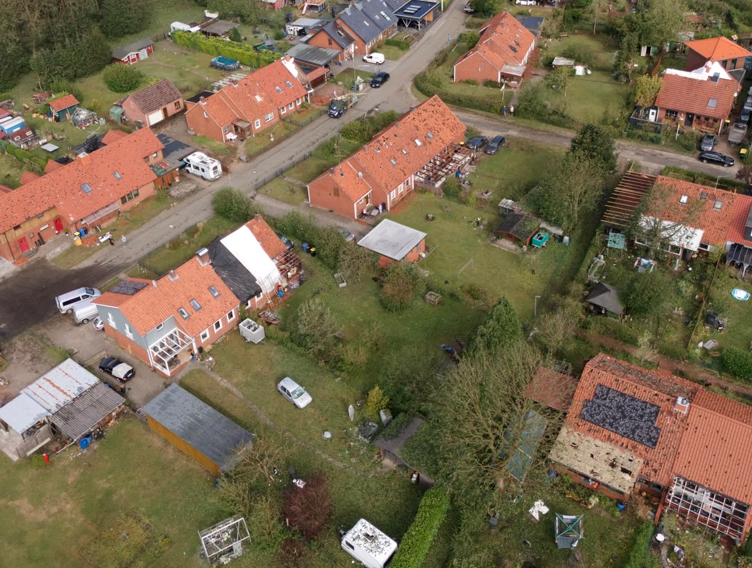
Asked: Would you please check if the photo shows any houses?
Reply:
Yes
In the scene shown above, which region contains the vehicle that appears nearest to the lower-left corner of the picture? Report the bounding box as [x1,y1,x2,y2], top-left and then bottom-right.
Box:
[89,352,138,381]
